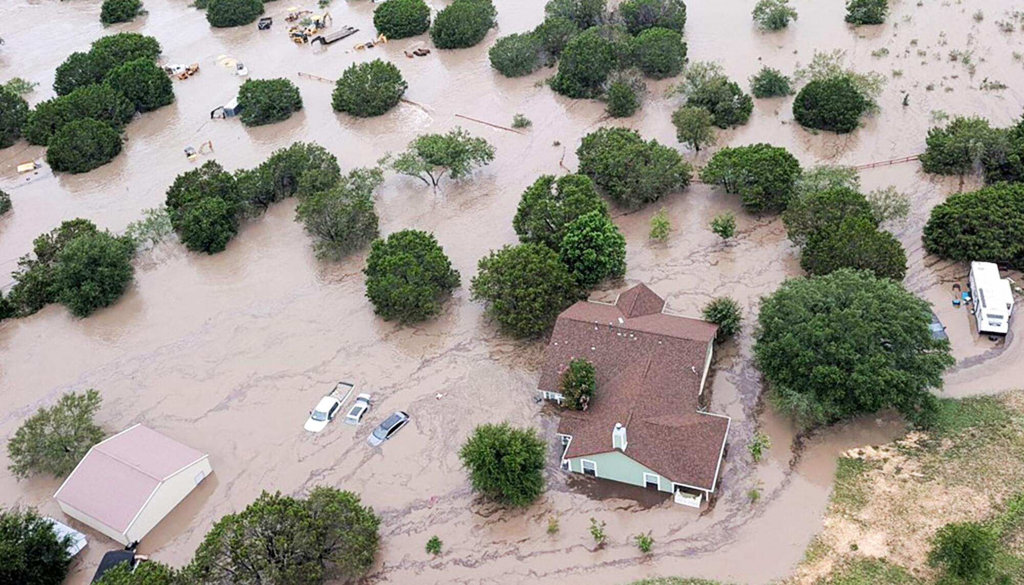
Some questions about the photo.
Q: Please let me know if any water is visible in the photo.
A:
Yes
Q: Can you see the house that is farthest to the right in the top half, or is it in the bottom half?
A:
bottom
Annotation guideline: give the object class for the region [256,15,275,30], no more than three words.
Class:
vehicle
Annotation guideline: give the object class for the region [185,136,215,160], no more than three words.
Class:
work vehicle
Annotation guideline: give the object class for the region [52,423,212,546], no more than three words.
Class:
building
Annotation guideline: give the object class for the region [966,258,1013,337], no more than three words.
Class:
vehicle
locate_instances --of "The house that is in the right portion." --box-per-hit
[538,282,732,504]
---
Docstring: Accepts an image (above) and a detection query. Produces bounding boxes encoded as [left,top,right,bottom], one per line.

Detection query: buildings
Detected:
[538,282,732,504]
[52,423,212,546]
